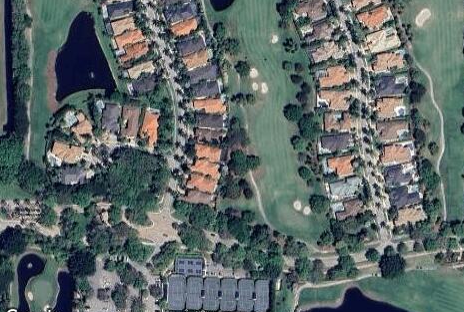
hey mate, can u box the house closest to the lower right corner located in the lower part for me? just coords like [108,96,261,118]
[394,204,430,226]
